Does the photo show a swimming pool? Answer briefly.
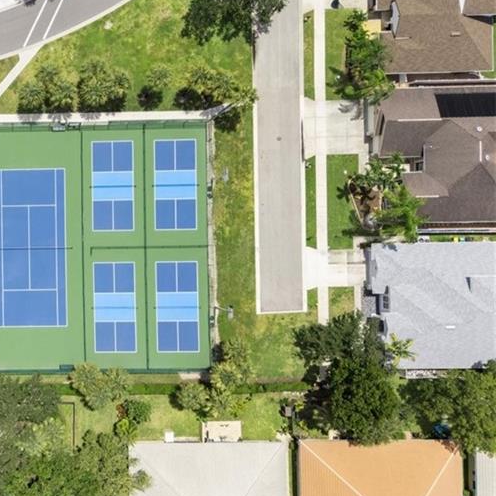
No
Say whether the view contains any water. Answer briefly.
No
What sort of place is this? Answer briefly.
residential area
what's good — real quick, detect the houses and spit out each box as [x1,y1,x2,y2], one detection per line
[371,88,496,222]
[464,445,496,496]
[129,441,290,496]
[295,439,463,496]
[362,242,496,370]
[361,0,496,75]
